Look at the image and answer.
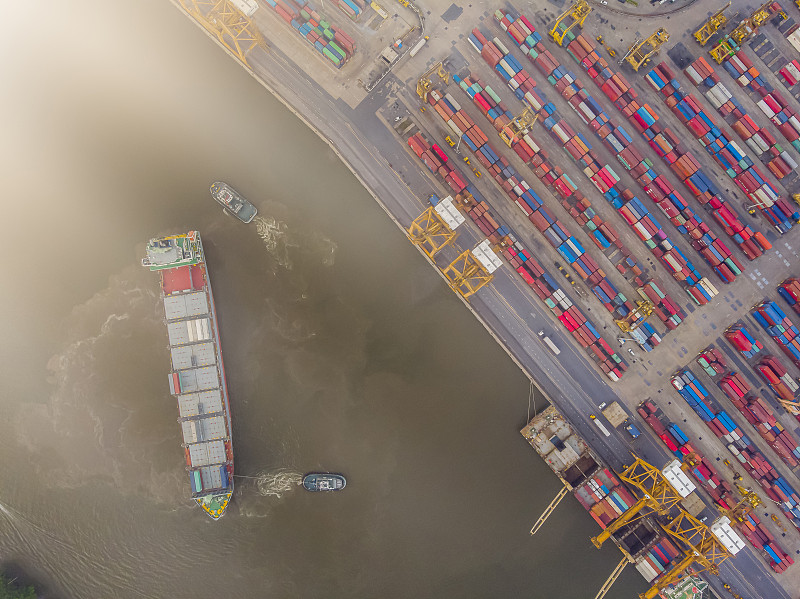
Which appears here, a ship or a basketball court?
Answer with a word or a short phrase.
ship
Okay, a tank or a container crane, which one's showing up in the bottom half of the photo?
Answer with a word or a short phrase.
container crane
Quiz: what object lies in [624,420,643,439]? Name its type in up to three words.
vehicle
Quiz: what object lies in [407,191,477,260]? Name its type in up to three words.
container crane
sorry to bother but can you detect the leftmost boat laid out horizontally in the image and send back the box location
[302,472,348,492]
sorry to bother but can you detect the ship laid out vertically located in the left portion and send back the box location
[145,232,234,521]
